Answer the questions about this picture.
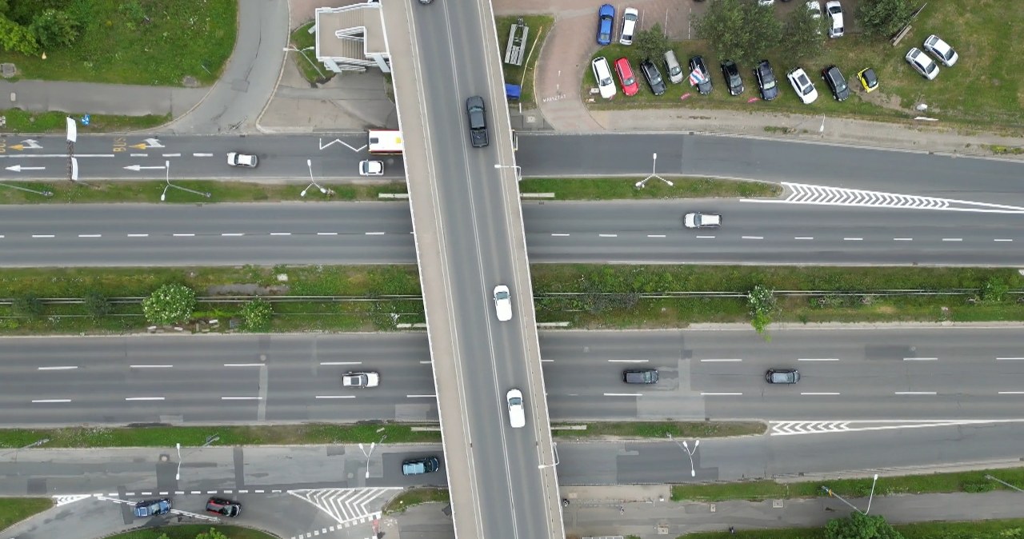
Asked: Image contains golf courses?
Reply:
No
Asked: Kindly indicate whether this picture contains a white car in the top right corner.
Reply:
Yes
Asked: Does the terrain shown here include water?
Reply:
No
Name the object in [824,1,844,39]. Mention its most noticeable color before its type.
white car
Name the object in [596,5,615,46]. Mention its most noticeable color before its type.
blue car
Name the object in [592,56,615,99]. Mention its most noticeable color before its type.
white car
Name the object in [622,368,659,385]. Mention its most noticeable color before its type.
gray car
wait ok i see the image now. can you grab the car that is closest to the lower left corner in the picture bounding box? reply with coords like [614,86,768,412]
[133,497,173,518]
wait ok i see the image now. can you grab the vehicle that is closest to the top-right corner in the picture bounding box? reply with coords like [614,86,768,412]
[923,34,956,66]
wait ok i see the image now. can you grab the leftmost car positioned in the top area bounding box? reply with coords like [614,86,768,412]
[227,152,259,168]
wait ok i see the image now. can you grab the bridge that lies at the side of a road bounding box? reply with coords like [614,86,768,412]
[378,0,585,539]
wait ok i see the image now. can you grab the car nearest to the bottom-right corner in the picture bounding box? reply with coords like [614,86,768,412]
[765,368,799,385]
